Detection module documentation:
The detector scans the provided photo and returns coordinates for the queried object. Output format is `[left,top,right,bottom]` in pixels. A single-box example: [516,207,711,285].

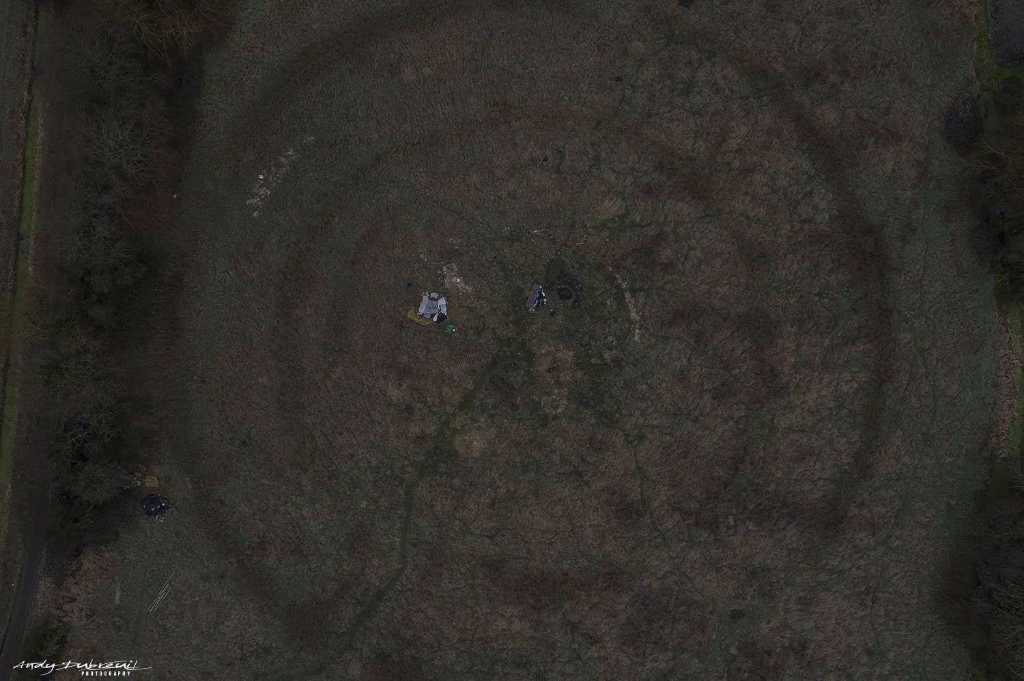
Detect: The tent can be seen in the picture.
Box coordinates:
[416,291,448,321]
